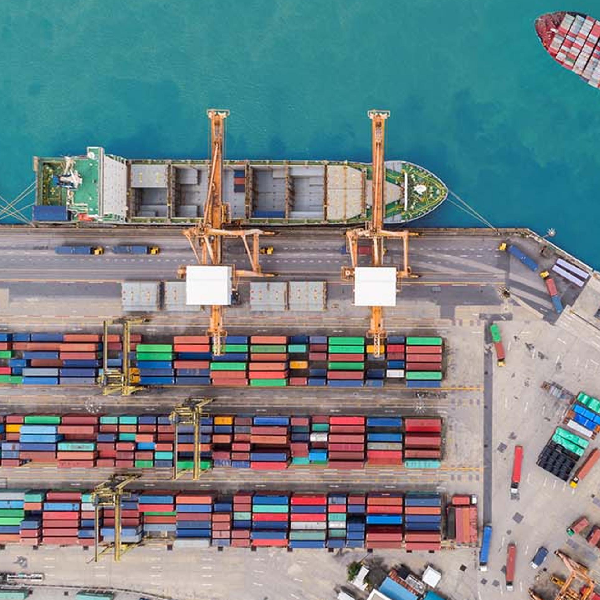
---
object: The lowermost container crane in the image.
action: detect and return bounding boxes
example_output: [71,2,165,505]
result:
[522,544,600,600]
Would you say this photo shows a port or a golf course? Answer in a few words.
port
